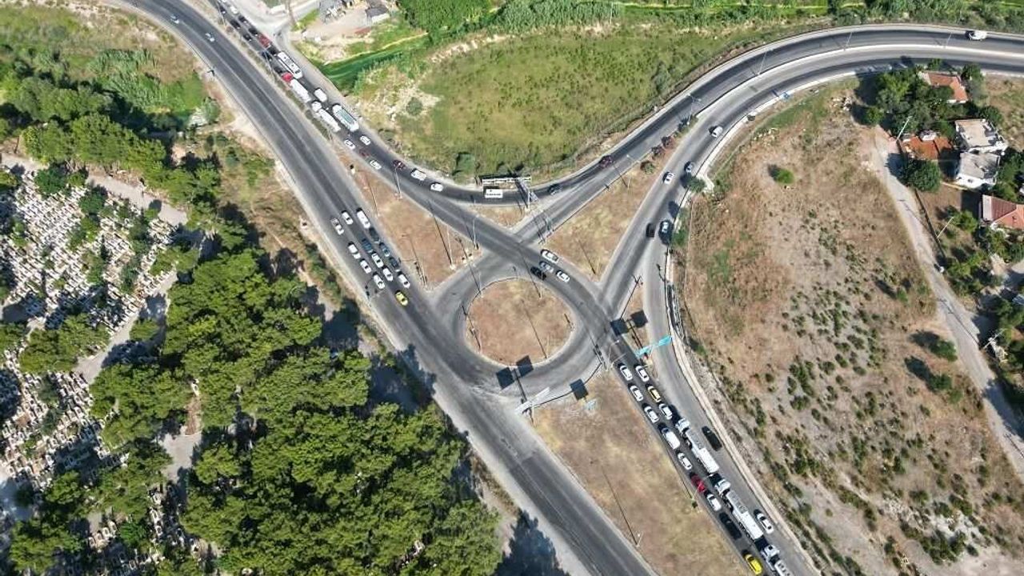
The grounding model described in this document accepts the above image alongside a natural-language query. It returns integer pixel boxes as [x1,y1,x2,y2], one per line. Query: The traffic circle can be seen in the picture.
[437,257,603,394]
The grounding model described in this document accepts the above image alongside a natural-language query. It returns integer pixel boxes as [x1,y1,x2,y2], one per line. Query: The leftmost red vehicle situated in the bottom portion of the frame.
[688,471,706,493]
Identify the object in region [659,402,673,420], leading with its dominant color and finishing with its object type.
white car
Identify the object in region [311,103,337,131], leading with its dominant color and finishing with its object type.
white truck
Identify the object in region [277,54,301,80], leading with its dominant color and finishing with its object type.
white bus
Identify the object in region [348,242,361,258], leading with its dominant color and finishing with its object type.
white vehicle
